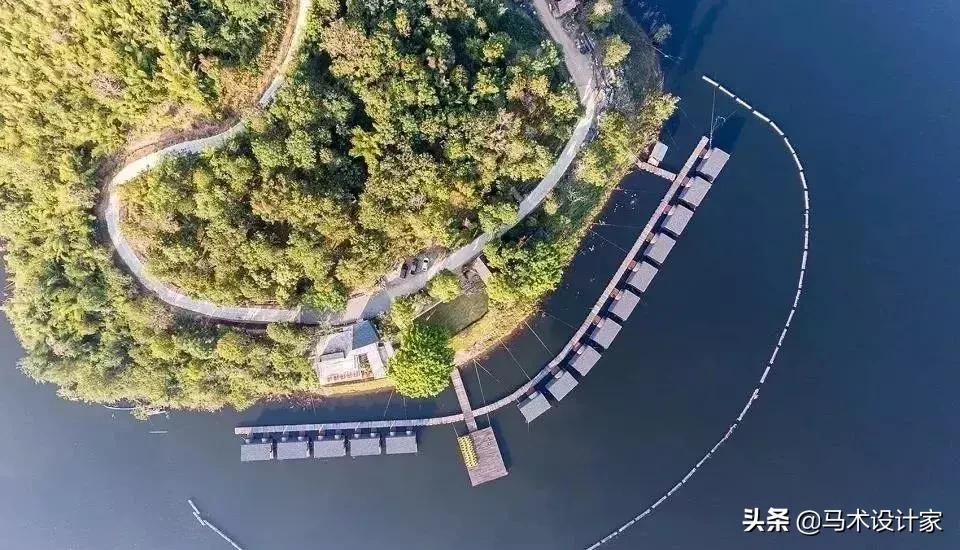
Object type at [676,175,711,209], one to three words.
building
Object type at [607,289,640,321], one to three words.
building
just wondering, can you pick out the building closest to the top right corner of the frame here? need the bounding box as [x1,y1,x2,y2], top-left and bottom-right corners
[693,148,728,183]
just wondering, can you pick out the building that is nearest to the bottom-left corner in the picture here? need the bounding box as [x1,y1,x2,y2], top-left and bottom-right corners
[241,437,276,461]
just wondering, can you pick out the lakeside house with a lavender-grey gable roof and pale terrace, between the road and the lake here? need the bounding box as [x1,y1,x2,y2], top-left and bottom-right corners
[319,320,390,389]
